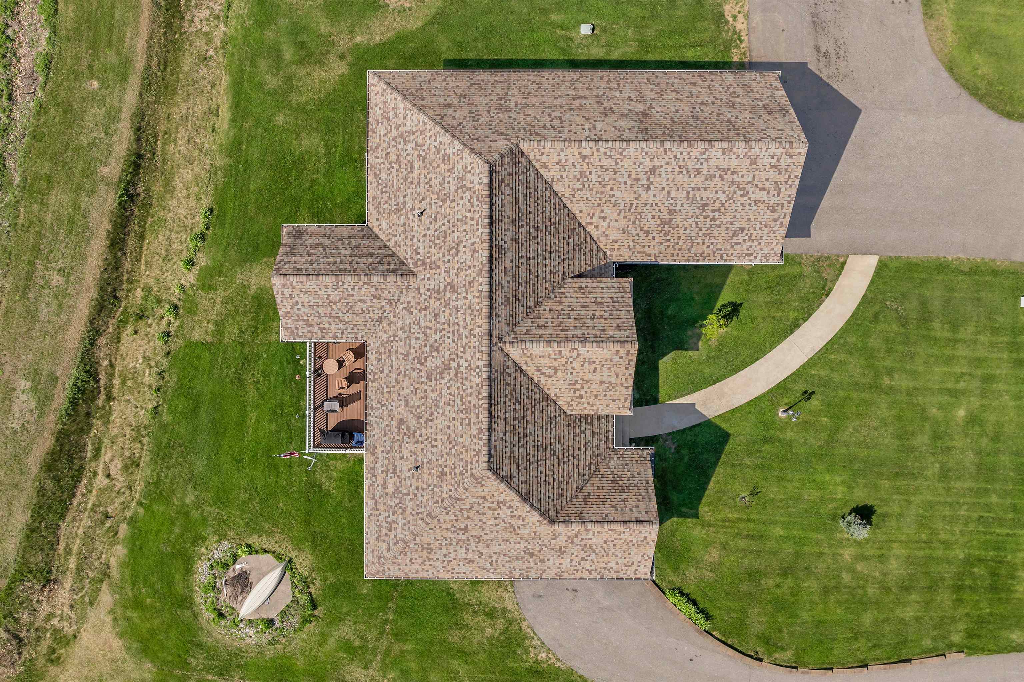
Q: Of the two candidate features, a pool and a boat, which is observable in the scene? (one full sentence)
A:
It is a boat that can be seen here.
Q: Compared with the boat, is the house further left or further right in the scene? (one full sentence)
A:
The house is to the right of the boat.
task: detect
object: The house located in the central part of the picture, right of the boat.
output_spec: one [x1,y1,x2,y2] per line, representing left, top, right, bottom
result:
[271,70,809,579]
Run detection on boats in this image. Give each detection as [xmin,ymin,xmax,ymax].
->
[238,561,287,620]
